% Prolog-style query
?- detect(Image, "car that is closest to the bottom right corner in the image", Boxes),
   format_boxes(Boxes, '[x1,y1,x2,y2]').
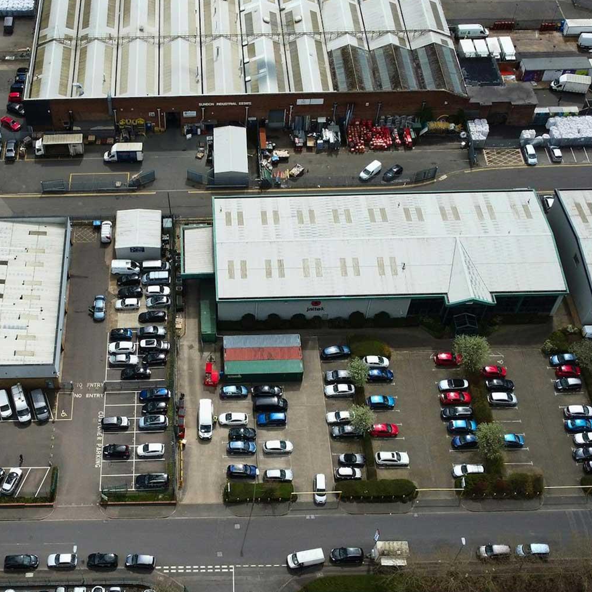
[517,541,548,558]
